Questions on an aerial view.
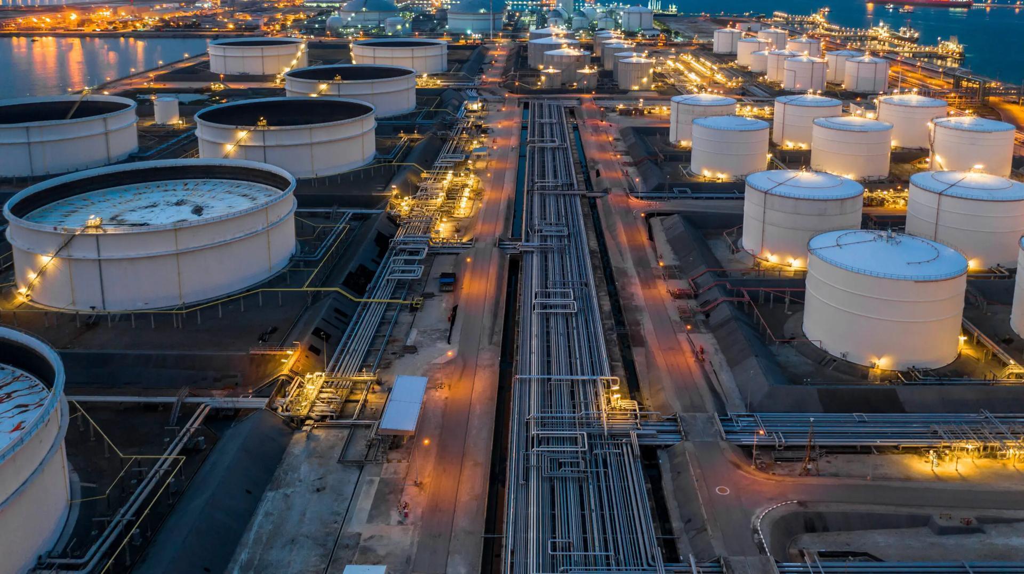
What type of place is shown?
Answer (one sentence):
This looks like an industrial area.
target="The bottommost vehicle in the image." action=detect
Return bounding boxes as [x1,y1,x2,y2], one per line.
[440,272,457,289]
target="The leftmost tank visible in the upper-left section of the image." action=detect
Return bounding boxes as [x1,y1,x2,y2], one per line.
[0,93,144,178]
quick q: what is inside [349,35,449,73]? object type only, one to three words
storage tank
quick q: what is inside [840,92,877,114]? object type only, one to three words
shed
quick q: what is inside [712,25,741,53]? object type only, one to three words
storage tank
